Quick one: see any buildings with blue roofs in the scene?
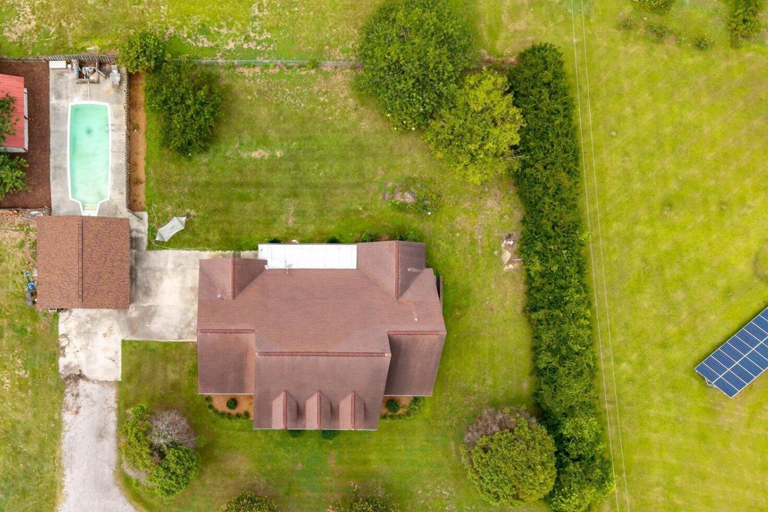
No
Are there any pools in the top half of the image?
Yes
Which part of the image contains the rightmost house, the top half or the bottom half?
bottom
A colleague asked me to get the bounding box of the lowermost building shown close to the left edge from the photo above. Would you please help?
[36,214,131,309]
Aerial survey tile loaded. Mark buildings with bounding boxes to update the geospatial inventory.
[196,240,444,430]
[36,214,131,309]
[0,73,28,152]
